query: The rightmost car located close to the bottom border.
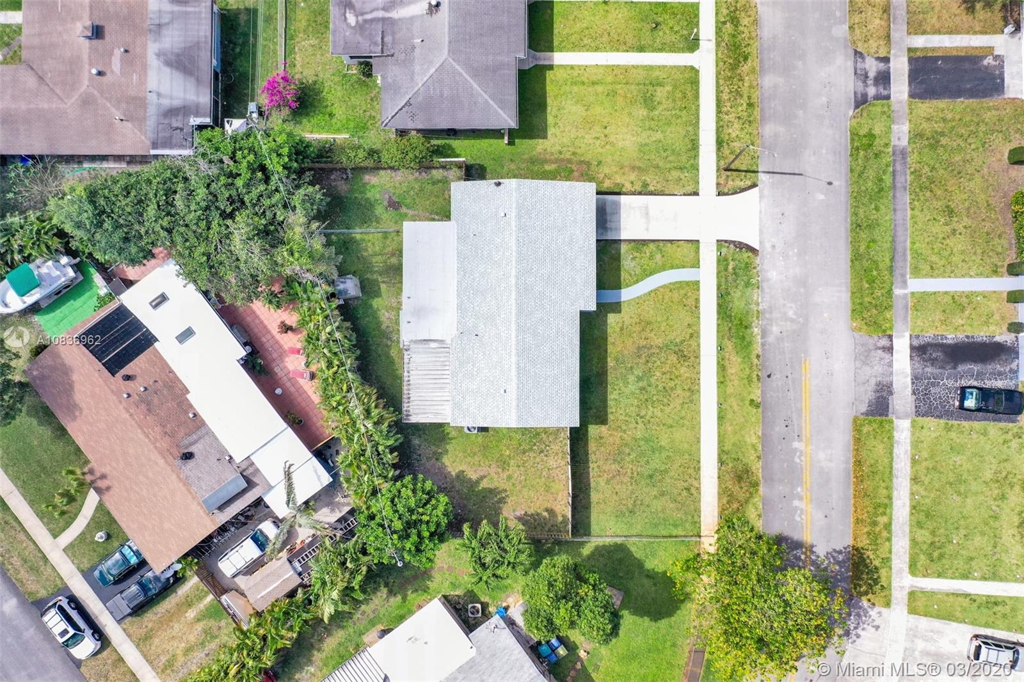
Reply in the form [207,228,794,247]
[969,641,1024,677]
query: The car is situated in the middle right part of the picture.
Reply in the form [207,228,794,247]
[958,386,1024,416]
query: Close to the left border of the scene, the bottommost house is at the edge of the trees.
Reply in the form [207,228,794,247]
[24,259,337,573]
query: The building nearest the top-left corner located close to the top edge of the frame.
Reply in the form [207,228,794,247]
[0,0,228,155]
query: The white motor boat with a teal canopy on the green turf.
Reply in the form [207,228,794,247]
[0,251,86,309]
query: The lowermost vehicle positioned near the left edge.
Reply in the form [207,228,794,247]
[38,599,98,663]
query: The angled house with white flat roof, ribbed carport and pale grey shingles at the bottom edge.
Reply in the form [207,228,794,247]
[322,590,550,682]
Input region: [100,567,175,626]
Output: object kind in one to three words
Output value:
truck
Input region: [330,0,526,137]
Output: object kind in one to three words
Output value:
house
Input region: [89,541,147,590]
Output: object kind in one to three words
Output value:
car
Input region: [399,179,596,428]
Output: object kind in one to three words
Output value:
house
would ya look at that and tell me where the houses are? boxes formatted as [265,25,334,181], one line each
[322,590,550,682]
[24,259,337,573]
[399,179,596,428]
[330,0,526,137]
[0,0,228,155]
